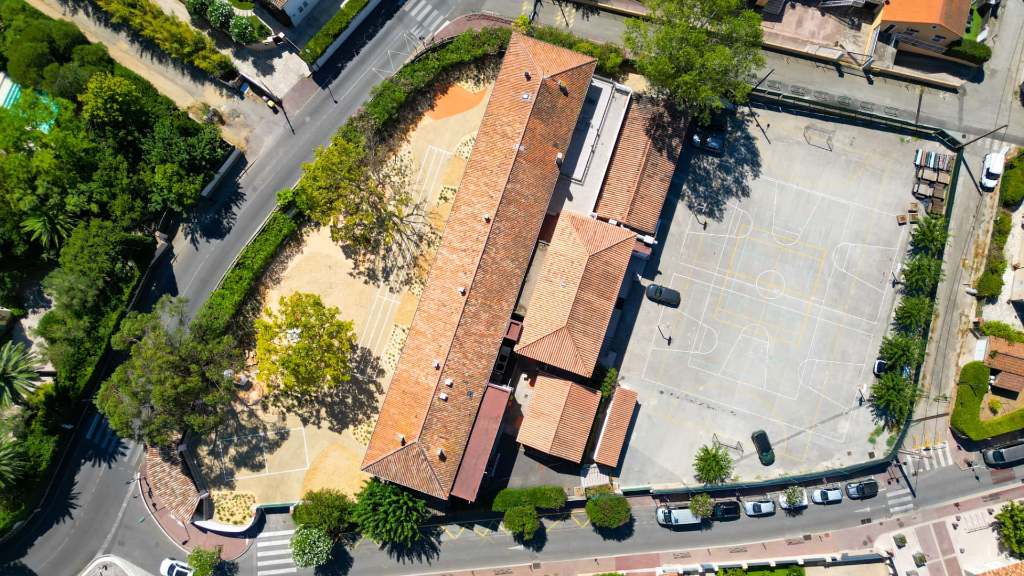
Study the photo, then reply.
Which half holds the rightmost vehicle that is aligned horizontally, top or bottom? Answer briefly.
bottom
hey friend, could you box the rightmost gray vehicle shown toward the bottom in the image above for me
[980,439,1024,466]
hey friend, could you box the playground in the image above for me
[154,57,631,506]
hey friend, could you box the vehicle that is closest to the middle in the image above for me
[645,283,682,306]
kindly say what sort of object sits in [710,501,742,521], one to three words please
car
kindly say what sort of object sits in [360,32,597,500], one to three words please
building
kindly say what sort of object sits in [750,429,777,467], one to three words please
car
